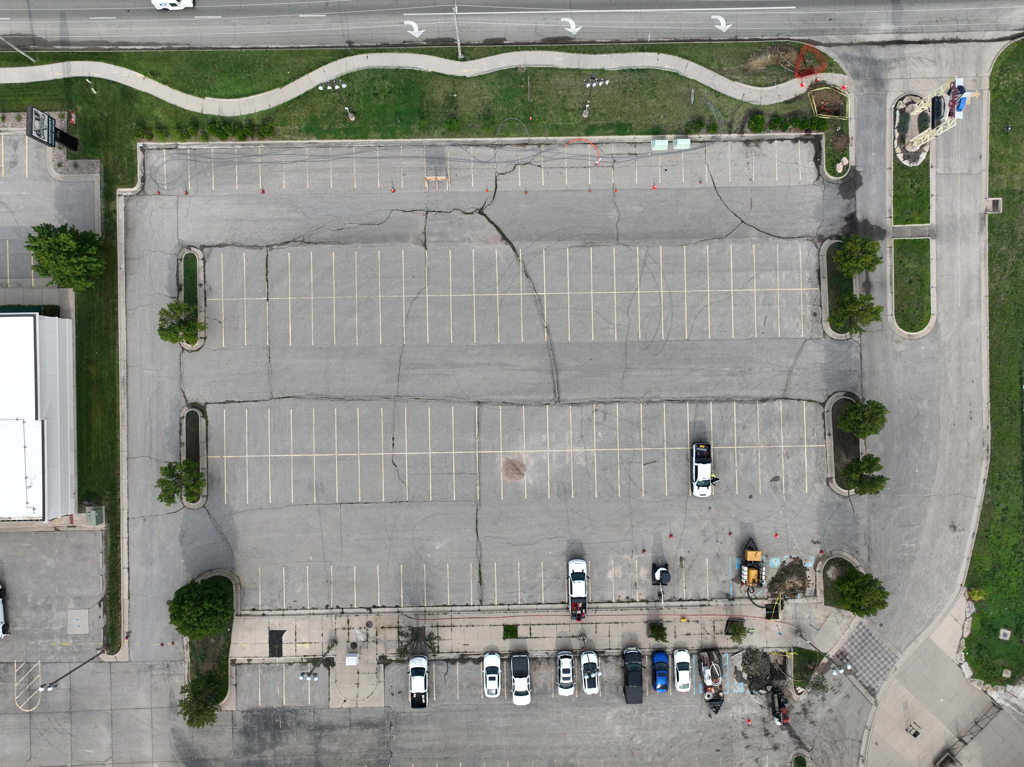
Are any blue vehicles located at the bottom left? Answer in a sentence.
No, there is no blue vehicle at the bottom left.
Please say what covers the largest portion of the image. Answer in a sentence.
Most of the picture is covered by paved ground.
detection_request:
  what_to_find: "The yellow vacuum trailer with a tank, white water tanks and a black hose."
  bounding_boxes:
[740,535,766,588]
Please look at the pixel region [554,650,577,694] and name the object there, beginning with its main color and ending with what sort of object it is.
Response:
white car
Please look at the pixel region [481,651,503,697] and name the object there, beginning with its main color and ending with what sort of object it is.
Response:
white car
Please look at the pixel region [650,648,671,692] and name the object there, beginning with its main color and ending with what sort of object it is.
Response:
blue car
